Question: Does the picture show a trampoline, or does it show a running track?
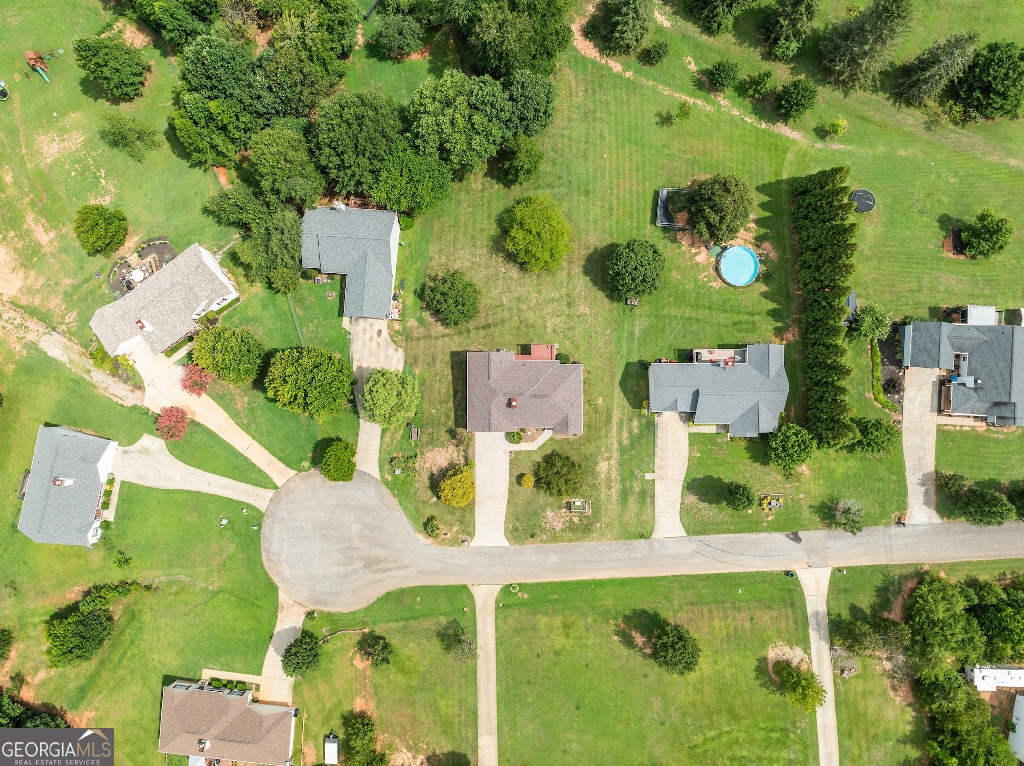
trampoline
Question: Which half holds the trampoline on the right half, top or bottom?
top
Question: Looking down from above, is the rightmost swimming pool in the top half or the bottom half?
top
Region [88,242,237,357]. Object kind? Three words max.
house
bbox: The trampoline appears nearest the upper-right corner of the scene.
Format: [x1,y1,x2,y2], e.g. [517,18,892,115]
[851,188,876,213]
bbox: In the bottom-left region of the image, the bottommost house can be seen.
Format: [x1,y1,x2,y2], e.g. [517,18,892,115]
[156,667,298,766]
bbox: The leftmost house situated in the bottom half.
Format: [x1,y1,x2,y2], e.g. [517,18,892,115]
[17,425,121,548]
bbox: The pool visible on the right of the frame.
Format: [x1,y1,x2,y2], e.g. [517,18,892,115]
[715,242,762,287]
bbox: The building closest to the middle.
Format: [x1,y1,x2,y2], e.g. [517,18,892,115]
[466,351,583,435]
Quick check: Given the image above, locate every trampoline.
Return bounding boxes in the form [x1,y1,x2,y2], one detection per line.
[0,85,14,103]
[851,188,876,213]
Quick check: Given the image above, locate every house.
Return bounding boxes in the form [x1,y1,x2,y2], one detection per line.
[902,321,1024,427]
[17,425,121,548]
[88,242,237,357]
[466,351,583,435]
[998,688,1024,750]
[648,343,792,437]
[156,667,298,766]
[299,201,398,320]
